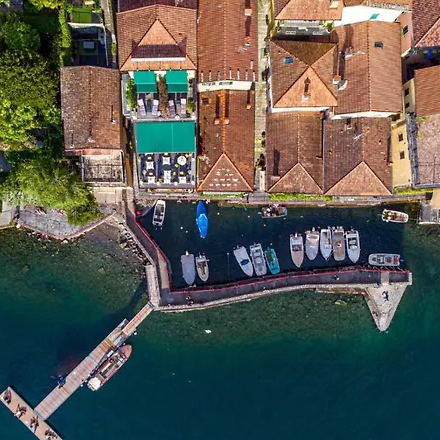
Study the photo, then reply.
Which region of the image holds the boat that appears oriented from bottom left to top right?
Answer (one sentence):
The boat that appears oriented from bottom left to top right sits in the bottom left section of the image.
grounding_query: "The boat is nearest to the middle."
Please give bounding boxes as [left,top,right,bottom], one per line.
[195,202,208,238]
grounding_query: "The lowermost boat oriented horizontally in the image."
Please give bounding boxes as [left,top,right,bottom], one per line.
[368,253,404,266]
